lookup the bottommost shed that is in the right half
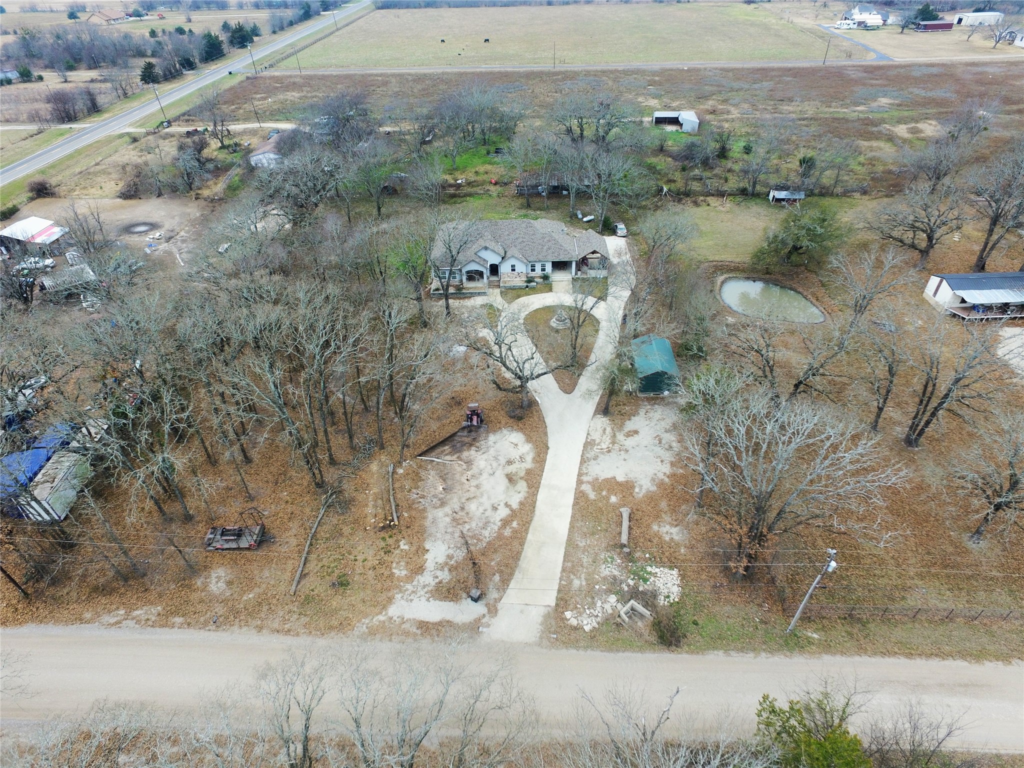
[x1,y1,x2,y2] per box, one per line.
[630,329,685,393]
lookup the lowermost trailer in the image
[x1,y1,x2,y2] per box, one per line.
[202,501,277,549]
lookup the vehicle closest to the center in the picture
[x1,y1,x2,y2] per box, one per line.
[463,396,484,439]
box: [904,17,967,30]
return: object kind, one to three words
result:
building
